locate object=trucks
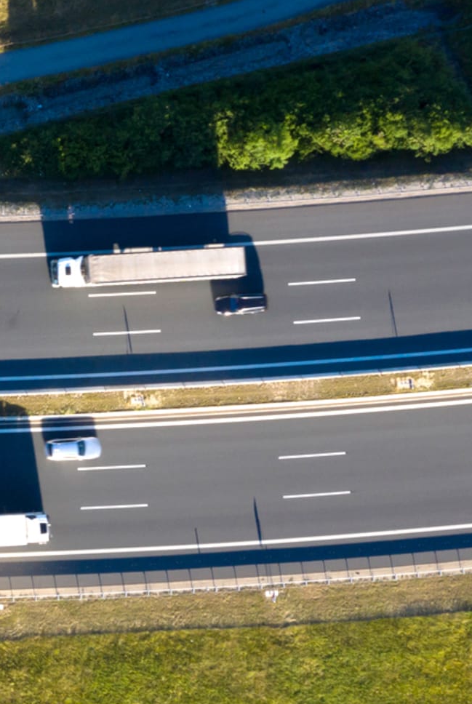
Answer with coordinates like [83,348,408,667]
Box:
[0,509,50,546]
[48,248,247,293]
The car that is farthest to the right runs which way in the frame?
horizontally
